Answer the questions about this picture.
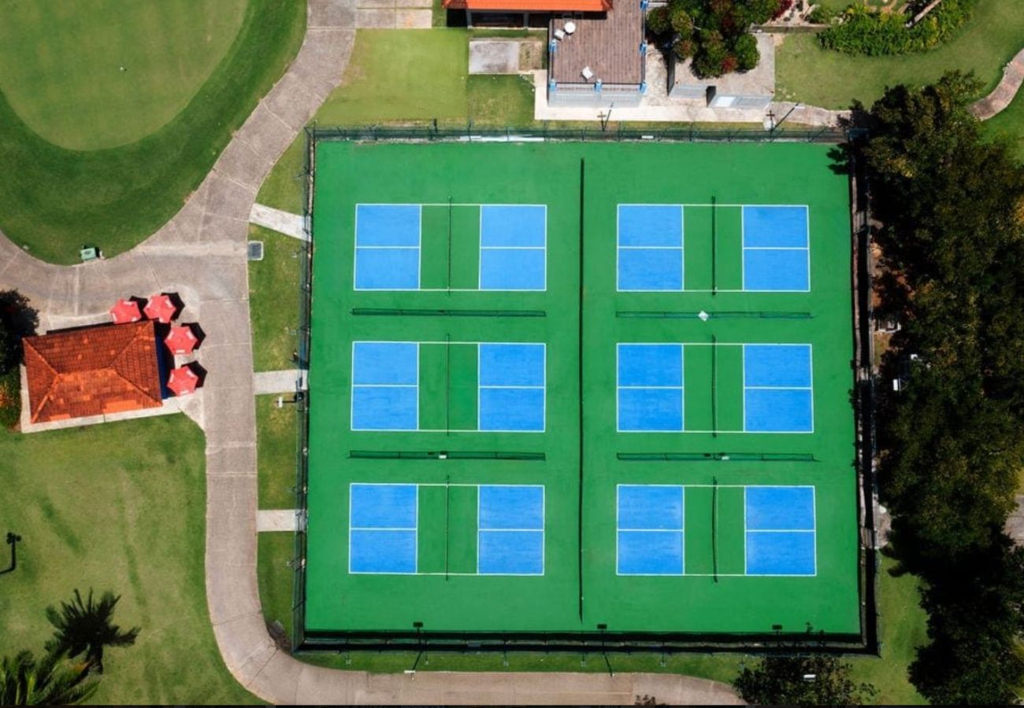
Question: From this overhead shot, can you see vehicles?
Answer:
No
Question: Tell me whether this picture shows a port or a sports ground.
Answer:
sports ground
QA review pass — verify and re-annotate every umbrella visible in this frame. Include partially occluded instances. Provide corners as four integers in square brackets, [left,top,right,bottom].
[168,366,200,396]
[111,296,144,325]
[145,295,177,323]
[166,326,199,354]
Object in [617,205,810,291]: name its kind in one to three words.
sports court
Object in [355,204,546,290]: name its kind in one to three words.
sports court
